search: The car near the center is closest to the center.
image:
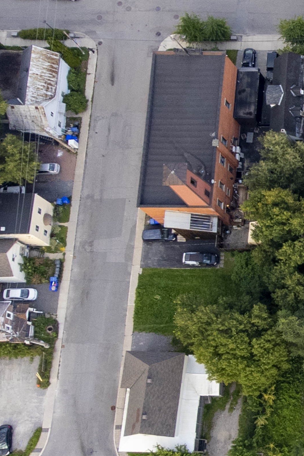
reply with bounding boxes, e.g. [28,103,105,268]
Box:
[142,229,177,243]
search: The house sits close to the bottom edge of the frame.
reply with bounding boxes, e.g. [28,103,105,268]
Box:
[118,351,224,454]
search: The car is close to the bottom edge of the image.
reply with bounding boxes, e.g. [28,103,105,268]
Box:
[0,422,16,456]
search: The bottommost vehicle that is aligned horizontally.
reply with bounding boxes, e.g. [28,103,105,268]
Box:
[3,286,38,302]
